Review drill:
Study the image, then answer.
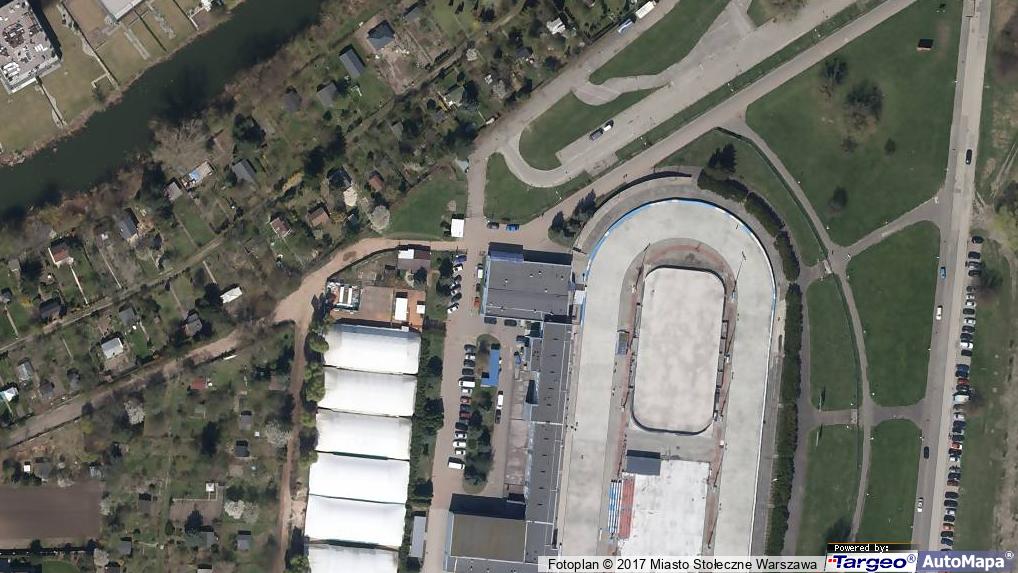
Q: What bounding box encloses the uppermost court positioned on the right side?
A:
[632,265,728,435]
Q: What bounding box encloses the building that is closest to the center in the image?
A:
[482,252,572,324]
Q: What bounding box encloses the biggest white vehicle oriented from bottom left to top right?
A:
[635,2,657,19]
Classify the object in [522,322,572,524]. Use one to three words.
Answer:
building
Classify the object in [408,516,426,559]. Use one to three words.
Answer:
shed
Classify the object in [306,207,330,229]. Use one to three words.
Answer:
house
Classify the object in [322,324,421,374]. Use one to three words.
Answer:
building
